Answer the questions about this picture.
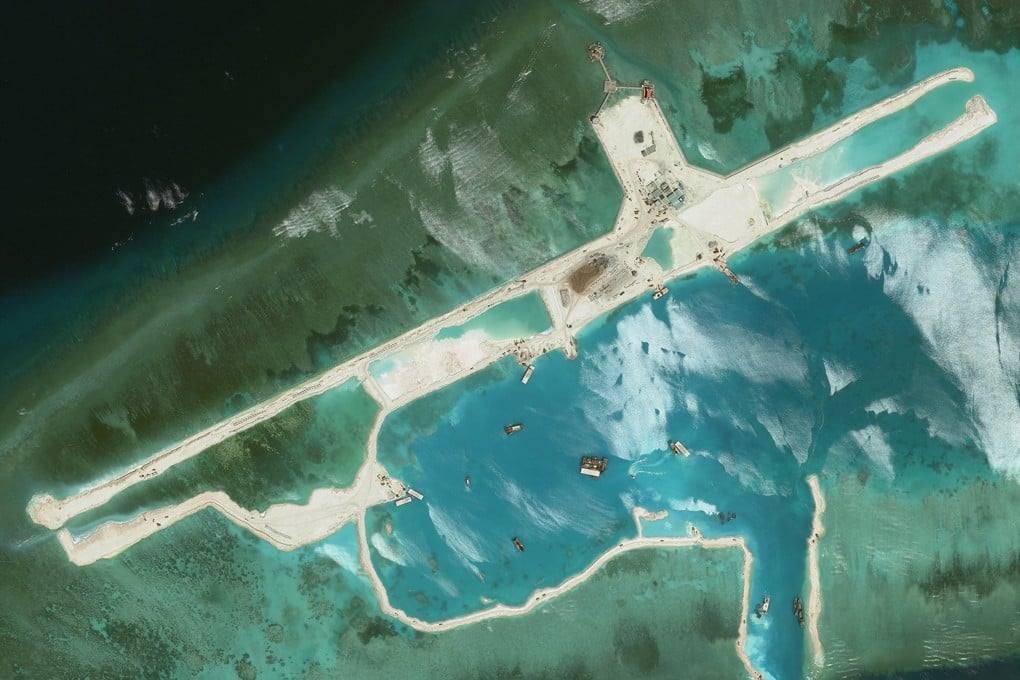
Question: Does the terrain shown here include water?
Yes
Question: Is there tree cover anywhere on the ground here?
No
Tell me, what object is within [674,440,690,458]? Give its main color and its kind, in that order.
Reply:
white ship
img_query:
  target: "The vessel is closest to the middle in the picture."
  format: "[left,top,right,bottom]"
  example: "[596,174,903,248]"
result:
[521,363,534,383]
